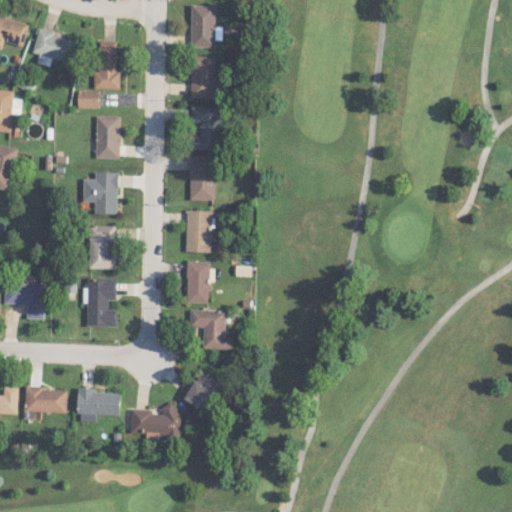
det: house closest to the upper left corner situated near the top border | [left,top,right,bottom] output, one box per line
[0,16,30,48]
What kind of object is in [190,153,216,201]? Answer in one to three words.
house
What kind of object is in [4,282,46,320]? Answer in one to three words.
house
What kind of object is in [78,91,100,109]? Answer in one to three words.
building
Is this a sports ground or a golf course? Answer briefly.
golf course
